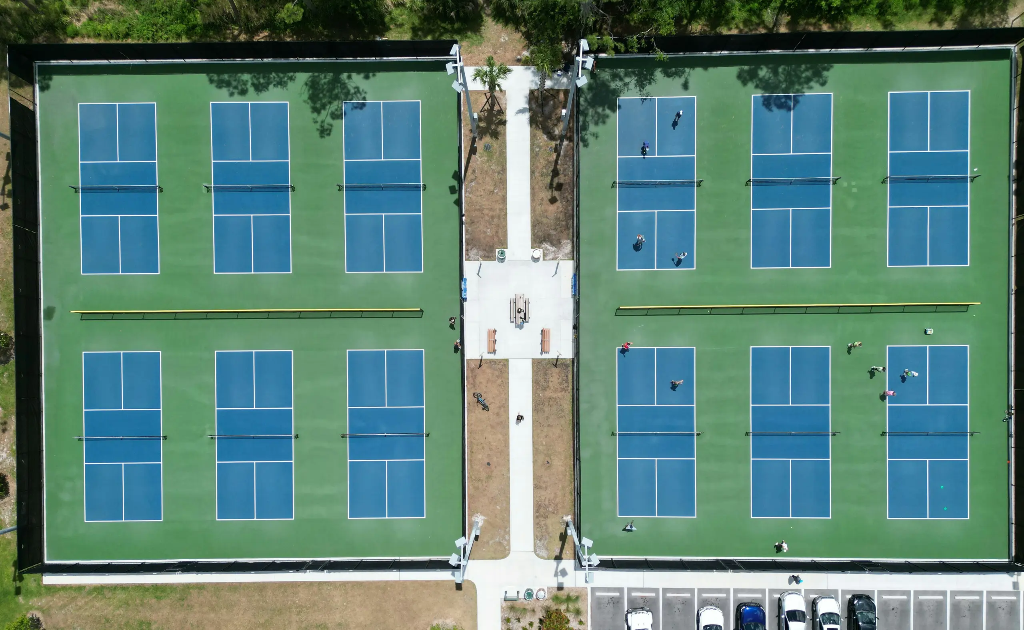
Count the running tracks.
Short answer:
0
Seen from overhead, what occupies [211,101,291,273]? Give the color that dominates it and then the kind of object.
blue sports court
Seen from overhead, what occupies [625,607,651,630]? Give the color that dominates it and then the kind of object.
white car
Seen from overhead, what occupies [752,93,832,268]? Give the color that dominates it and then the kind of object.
blue sports court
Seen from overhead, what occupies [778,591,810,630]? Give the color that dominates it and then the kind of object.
white car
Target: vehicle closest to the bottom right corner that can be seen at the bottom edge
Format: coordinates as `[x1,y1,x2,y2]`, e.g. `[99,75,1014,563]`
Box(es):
[848,595,882,630]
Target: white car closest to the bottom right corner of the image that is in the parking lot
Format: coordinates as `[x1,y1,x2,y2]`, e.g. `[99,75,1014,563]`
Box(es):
[813,596,846,630]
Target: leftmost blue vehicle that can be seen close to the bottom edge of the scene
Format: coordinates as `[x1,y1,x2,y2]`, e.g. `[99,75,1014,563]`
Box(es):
[737,603,769,630]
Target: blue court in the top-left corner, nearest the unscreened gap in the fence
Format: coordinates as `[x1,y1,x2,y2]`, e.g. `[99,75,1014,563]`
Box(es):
[78,102,159,274]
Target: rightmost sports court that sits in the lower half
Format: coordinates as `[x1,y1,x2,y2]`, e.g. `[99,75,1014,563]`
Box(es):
[887,345,969,519]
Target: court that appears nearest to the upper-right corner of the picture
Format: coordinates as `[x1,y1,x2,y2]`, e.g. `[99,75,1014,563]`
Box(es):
[888,90,970,266]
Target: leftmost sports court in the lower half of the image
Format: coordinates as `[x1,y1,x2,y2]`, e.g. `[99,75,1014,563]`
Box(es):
[82,352,162,521]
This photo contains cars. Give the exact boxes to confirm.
[625,607,651,630]
[848,595,882,630]
[778,591,810,630]
[813,596,846,630]
[696,608,722,630]
[737,603,769,630]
